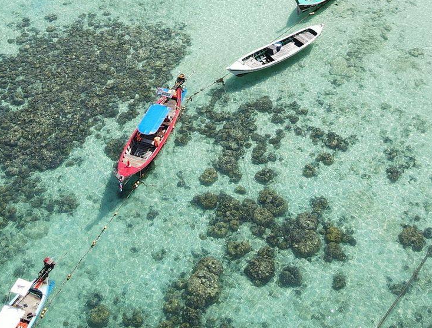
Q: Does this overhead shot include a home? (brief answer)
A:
No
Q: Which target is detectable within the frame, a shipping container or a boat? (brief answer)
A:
boat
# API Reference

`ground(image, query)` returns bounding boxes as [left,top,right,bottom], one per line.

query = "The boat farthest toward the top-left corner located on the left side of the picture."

[116,54,198,186]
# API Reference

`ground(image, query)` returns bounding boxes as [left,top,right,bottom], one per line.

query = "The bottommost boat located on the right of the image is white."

[231,25,323,73]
